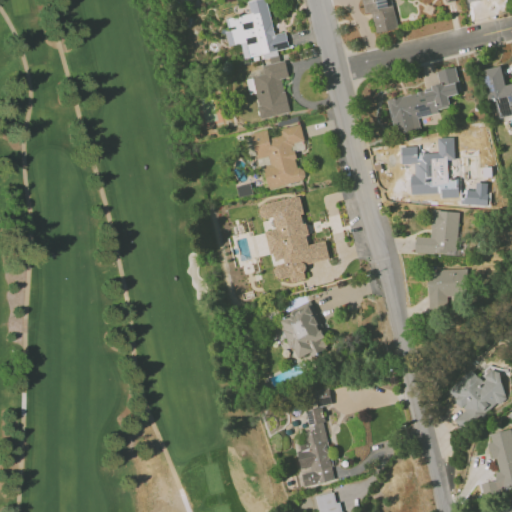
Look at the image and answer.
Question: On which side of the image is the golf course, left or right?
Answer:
left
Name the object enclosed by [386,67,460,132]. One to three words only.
house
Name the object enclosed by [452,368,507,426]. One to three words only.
house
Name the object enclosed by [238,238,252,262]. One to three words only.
swimming pool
